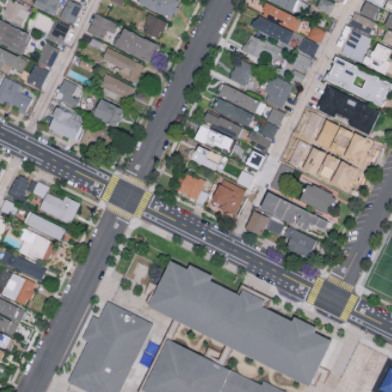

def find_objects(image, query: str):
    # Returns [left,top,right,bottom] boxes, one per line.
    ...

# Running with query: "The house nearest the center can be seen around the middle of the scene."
[179,174,208,206]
